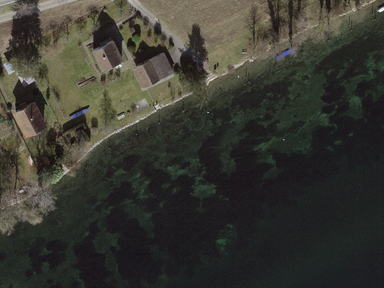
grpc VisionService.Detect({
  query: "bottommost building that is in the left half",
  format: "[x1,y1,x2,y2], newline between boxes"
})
[65,126,91,146]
